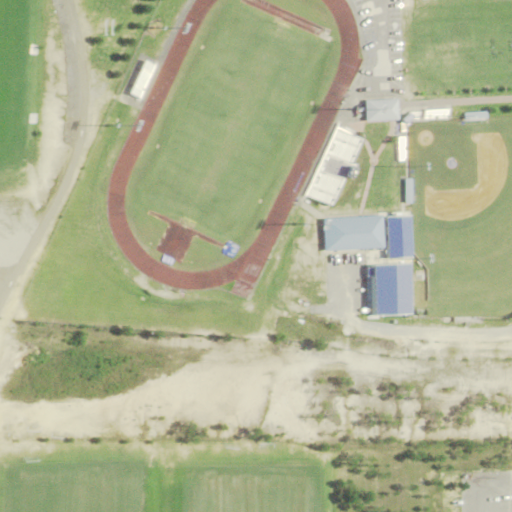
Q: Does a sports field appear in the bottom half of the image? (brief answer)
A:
Yes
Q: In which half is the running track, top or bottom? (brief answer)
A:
top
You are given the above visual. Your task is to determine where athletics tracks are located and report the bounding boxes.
[109,0,363,299]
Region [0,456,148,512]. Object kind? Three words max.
sports field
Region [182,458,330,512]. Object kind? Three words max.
sports field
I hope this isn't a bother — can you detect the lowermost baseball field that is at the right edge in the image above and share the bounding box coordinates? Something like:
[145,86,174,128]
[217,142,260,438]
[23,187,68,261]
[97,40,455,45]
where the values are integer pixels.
[408,114,512,318]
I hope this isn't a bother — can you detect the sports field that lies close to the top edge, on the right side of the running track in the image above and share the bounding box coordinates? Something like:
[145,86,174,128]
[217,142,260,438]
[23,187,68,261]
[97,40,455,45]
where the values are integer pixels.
[412,0,512,86]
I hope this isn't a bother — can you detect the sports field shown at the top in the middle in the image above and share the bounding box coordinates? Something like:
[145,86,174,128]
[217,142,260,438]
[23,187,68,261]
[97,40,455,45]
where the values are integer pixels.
[125,0,341,272]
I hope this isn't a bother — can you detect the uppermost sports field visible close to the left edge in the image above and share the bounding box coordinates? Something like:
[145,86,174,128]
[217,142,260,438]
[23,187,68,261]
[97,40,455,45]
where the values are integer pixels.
[0,0,30,163]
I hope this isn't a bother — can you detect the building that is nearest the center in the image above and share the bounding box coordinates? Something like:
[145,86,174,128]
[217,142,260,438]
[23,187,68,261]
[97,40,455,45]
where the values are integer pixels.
[323,216,386,250]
